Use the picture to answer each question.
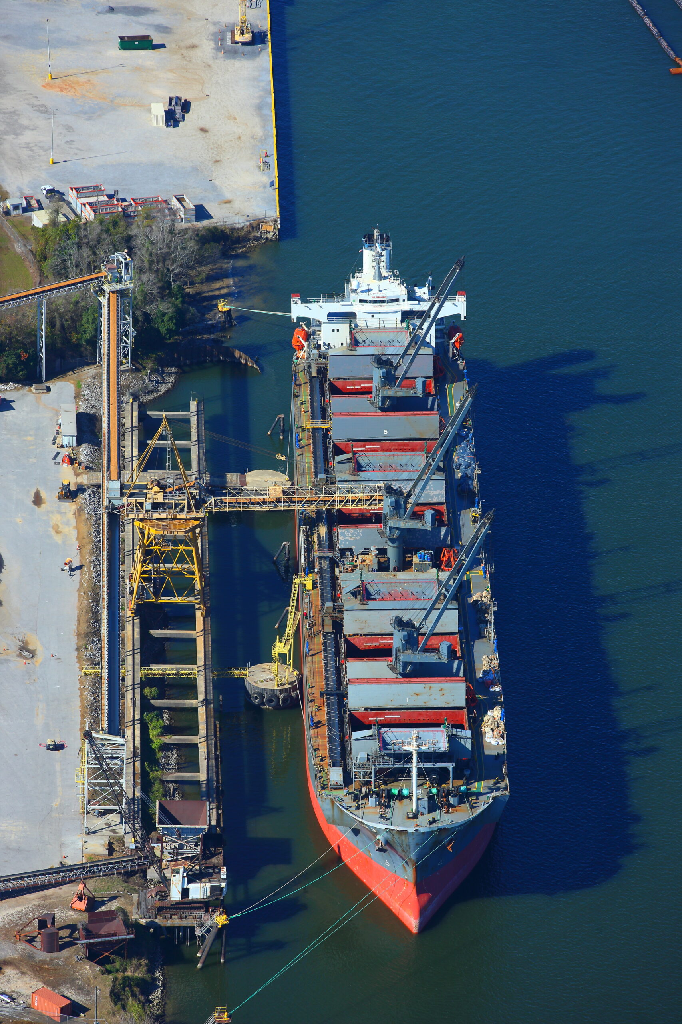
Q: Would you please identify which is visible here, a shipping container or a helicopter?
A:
shipping container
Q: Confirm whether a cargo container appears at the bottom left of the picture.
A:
Yes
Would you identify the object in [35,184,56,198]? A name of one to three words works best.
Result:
vehicle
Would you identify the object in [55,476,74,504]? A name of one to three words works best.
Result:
work vehicle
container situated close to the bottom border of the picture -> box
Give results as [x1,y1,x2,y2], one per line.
[31,985,72,1022]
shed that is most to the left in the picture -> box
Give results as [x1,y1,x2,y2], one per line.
[5,194,24,215]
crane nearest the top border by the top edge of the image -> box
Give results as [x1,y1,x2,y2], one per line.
[230,0,253,45]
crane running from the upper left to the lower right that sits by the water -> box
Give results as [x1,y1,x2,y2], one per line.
[81,722,229,916]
